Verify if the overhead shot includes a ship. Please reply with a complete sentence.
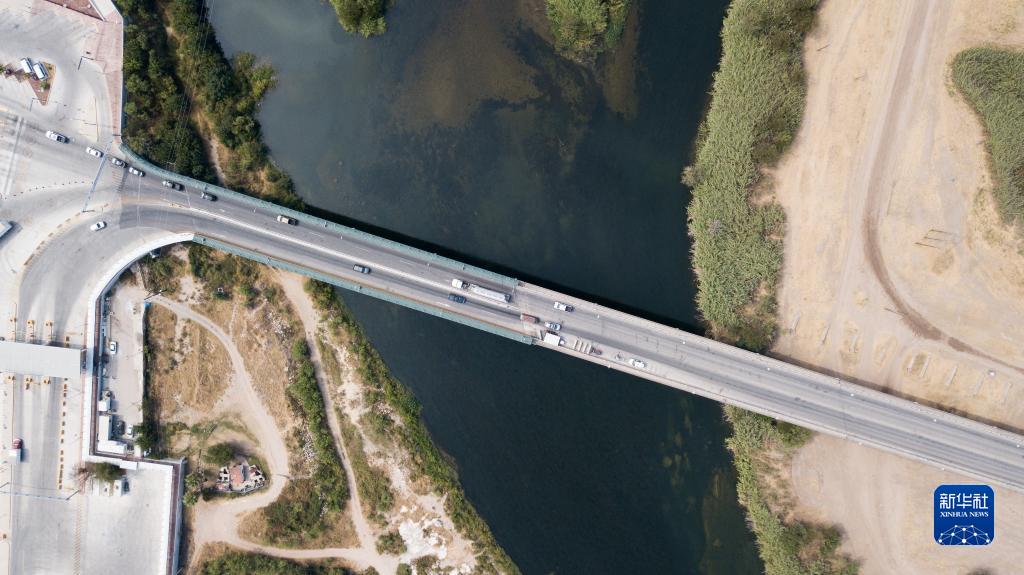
No, I find no ship anywhere in the image.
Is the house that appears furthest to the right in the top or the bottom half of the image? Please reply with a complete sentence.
Seen from above, the house that appears furthest to the right lies in the bottom half of the view.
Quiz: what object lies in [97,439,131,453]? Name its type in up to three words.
building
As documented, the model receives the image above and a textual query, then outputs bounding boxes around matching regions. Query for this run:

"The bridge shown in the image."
[117,146,1024,491]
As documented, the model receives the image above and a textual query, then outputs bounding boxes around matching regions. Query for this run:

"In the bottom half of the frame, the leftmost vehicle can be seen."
[9,438,24,467]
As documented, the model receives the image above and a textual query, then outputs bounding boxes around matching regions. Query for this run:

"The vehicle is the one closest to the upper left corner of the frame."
[47,130,66,143]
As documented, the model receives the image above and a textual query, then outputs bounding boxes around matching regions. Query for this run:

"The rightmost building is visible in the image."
[215,463,265,492]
